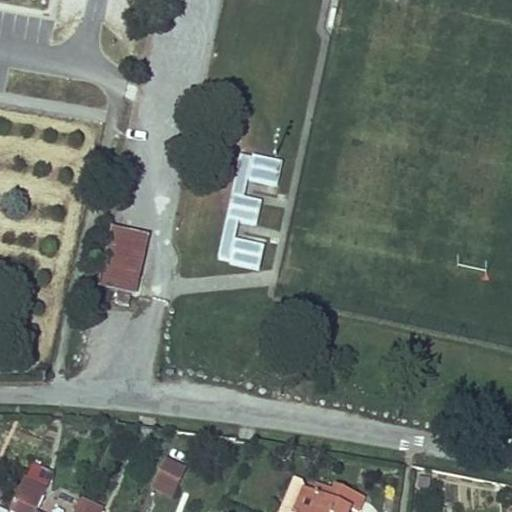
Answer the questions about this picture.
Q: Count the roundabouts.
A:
0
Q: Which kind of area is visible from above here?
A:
sports ground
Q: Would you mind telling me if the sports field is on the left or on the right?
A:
right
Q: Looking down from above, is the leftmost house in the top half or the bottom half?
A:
bottom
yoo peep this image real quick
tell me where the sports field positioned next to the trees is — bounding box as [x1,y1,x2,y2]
[277,0,512,348]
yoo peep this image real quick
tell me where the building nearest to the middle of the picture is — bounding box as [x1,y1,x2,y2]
[218,152,283,272]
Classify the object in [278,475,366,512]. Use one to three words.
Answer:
house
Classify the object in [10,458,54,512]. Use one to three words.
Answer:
house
